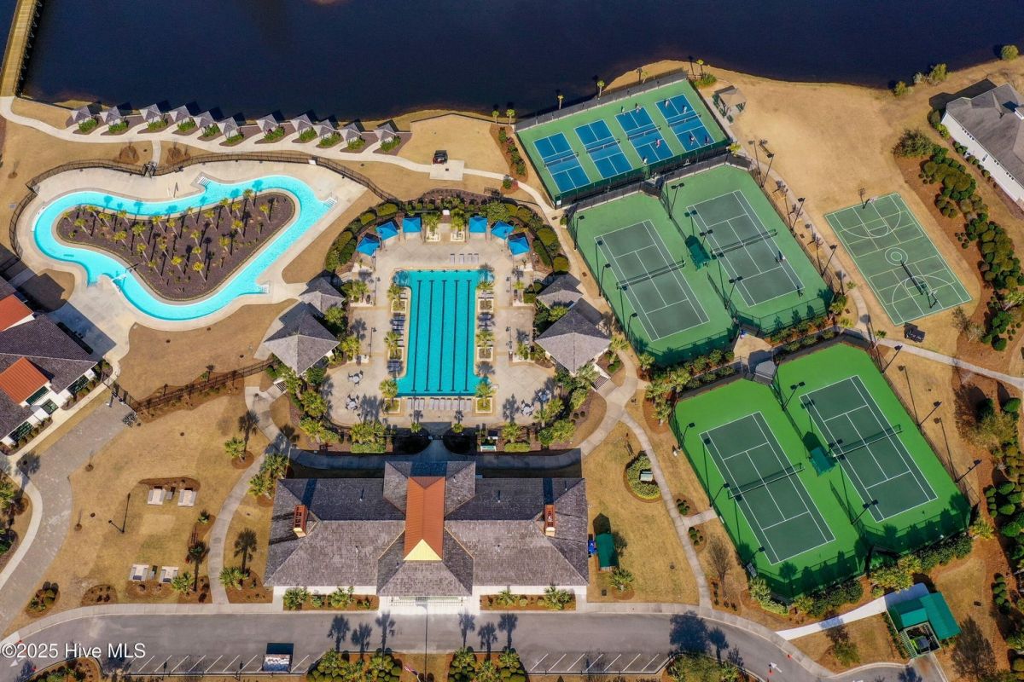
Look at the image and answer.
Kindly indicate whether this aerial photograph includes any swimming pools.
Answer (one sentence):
Yes, there's a swimming pool here.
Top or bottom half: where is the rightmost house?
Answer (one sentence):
The rightmost house sits in the top half of the picture.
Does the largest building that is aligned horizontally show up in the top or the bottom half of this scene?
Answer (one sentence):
The largest building that is aligned horizontally sits in the bottom half of the picture.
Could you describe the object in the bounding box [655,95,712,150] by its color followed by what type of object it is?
blue sports court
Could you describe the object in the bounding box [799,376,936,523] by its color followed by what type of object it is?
green tennis court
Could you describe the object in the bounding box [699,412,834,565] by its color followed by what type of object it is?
green tennis court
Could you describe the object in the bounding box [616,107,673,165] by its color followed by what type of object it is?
blue sports court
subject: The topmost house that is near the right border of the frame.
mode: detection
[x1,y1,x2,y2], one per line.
[941,79,1024,220]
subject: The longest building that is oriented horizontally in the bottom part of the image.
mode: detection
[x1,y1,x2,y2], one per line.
[264,461,589,611]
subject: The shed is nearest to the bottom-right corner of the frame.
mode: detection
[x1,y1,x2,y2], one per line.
[887,592,964,657]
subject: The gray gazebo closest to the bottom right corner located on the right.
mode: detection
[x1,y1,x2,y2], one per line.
[749,361,778,391]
